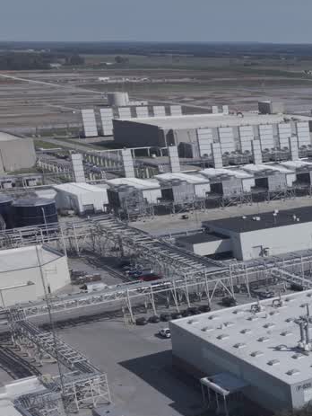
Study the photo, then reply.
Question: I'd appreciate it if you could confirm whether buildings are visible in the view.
Yes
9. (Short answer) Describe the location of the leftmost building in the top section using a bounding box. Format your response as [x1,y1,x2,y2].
[0,137,37,178]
